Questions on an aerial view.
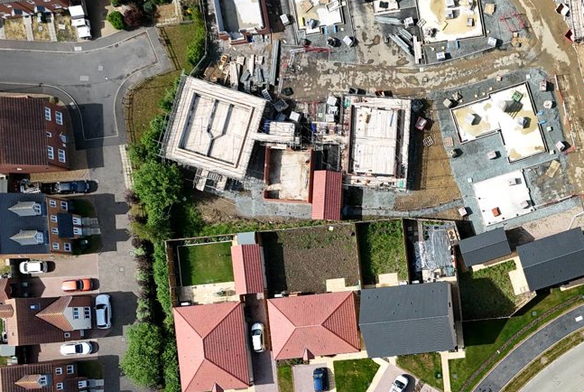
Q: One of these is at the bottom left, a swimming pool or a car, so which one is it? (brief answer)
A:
car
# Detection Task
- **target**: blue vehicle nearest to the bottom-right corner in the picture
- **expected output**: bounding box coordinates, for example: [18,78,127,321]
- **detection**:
[313,367,328,392]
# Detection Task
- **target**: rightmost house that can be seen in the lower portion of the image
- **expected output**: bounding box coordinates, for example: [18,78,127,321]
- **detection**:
[516,228,584,292]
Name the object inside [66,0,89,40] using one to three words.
truck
